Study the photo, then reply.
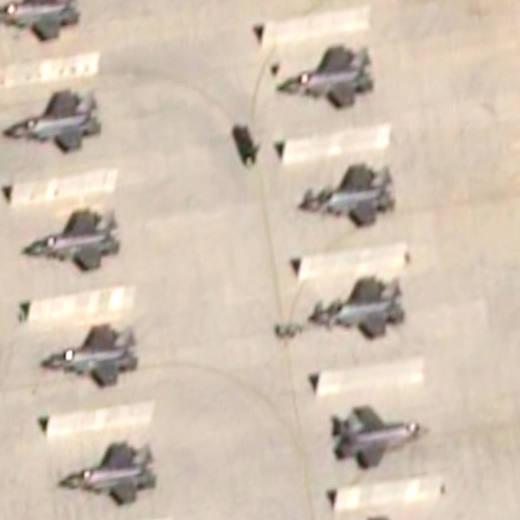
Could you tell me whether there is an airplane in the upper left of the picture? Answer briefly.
Yes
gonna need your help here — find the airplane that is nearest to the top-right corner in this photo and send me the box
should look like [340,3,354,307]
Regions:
[284,46,372,105]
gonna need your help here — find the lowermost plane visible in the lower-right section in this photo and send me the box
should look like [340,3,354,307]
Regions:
[341,406,428,465]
